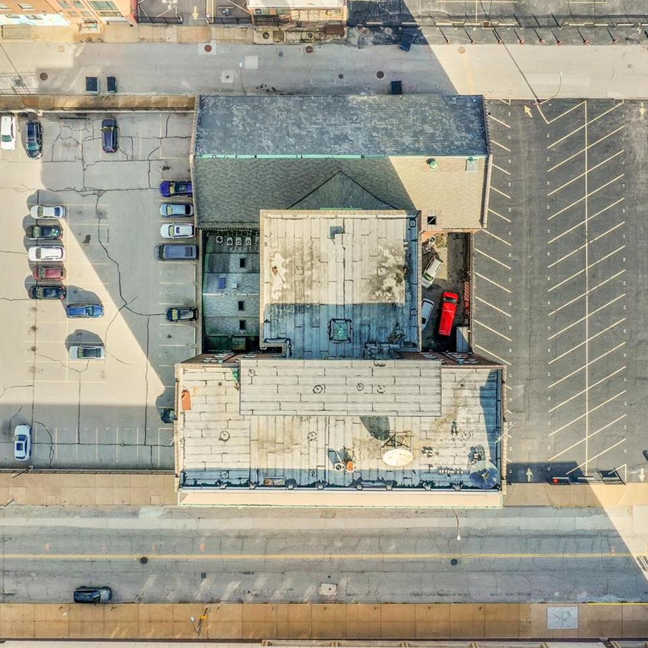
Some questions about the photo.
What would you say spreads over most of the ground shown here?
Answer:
paved ground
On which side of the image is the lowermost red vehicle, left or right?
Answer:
right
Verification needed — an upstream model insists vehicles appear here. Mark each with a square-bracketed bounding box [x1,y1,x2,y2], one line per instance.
[67,302,103,318]
[165,306,198,323]
[437,291,460,336]
[26,223,62,239]
[159,181,193,197]
[159,408,176,424]
[31,204,67,219]
[0,113,18,150]
[159,202,194,218]
[69,344,105,359]
[74,586,110,604]
[34,266,65,280]
[30,284,66,300]
[156,242,197,259]
[101,119,119,154]
[31,245,64,260]
[420,252,445,287]
[161,222,196,239]
[14,425,31,461]
[24,121,43,158]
